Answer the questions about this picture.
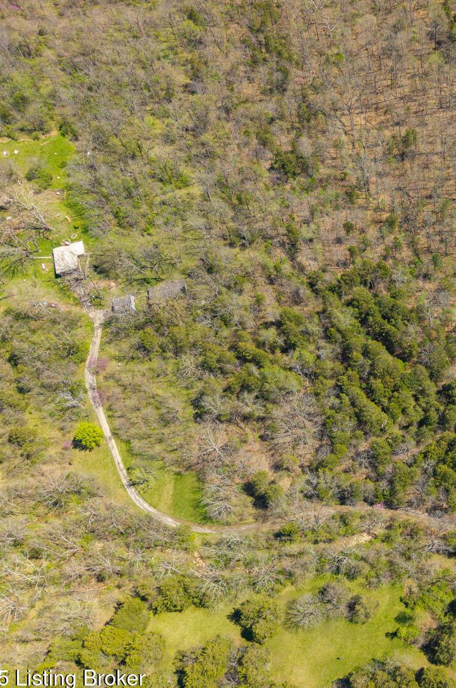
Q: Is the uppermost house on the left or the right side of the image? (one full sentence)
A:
You can find the uppermost house on the left side of the picture.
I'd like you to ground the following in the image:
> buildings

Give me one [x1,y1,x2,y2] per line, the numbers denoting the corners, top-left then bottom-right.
[110,295,135,314]
[52,240,87,277]
[146,281,185,304]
